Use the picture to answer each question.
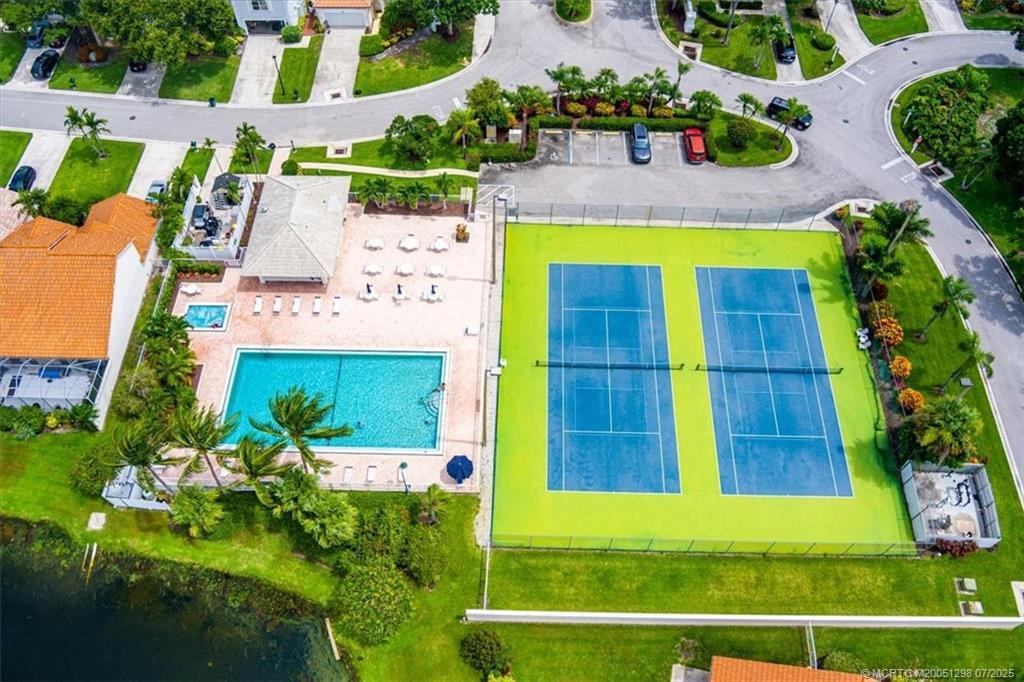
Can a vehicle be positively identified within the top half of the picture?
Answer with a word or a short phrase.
Yes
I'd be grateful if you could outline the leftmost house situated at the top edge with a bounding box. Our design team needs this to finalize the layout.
[233,0,316,35]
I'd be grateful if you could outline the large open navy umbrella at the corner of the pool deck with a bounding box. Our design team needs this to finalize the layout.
[447,455,474,481]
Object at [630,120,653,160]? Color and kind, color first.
blue car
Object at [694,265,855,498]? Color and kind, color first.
blue tennis court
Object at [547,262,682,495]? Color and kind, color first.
blue tennis court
